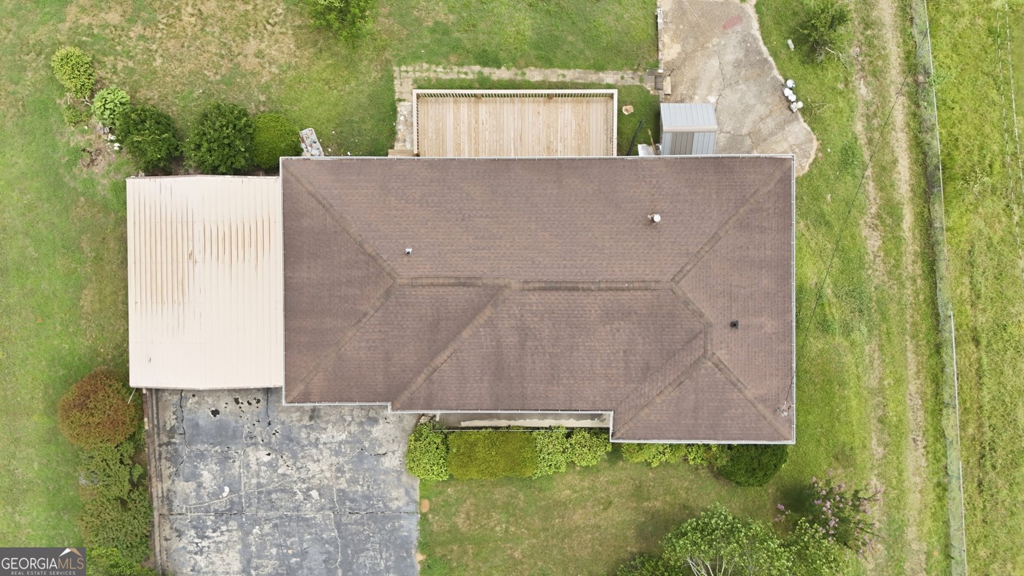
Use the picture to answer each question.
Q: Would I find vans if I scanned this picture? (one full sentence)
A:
No, I can see no van in this picture.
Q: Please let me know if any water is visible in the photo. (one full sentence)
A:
No, the scene doesn't show any water.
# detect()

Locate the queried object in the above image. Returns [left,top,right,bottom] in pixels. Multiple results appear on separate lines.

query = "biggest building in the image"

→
[280,154,797,445]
